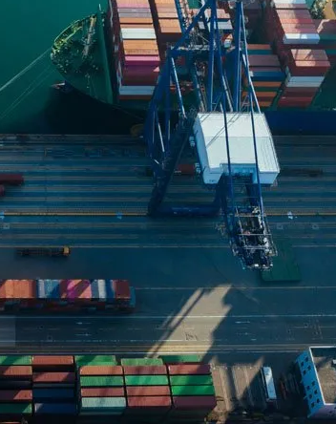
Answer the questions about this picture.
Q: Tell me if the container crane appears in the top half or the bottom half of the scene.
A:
top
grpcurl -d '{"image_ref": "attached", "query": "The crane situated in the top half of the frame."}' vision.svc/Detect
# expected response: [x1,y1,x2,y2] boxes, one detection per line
[136,0,280,271]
